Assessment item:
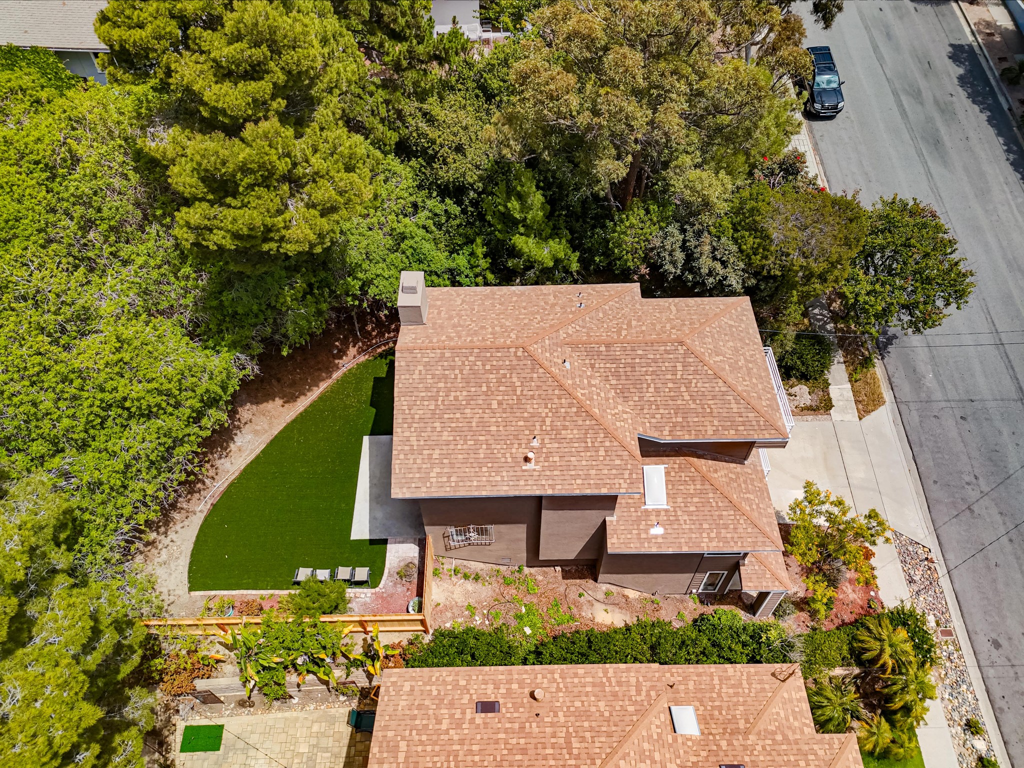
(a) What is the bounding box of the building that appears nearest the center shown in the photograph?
[390,274,795,616]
